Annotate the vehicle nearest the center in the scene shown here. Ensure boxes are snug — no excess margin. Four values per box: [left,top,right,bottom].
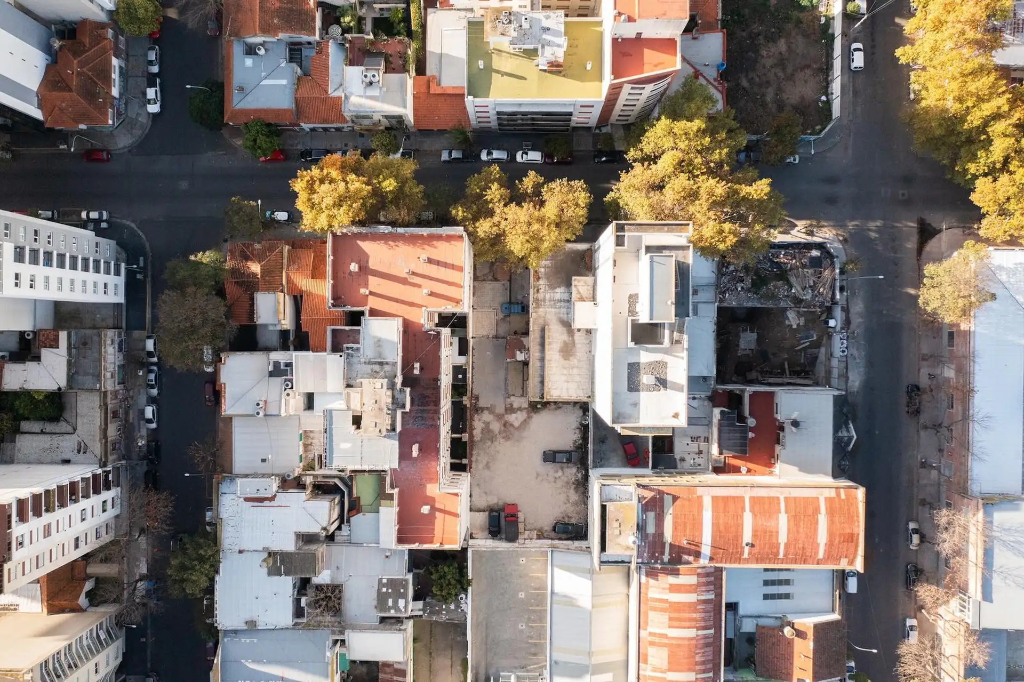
[501,302,527,314]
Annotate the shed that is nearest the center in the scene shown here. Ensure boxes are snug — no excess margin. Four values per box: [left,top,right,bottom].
[506,337,528,360]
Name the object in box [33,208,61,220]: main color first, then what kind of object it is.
gray vehicle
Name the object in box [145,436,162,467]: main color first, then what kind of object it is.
black car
